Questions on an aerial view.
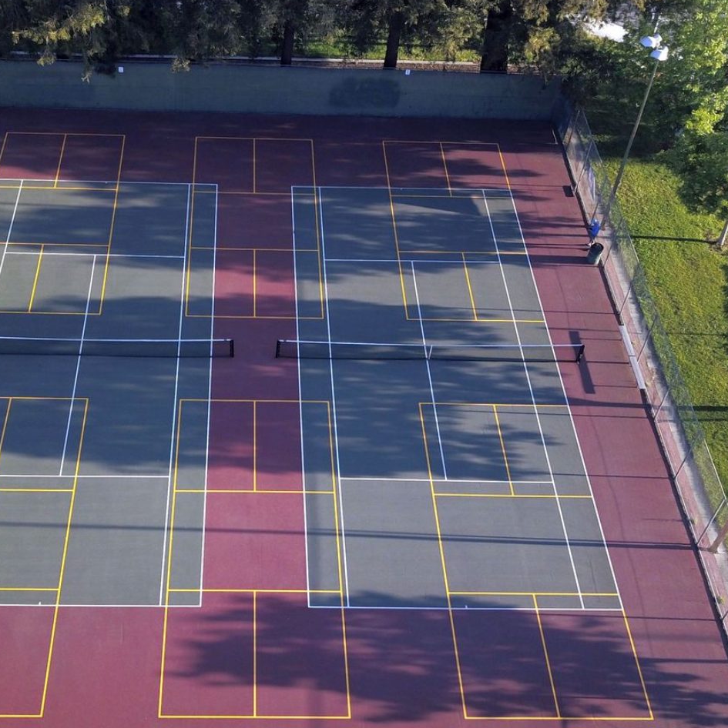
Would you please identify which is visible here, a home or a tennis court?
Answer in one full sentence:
It is a tennis court that can be seen here.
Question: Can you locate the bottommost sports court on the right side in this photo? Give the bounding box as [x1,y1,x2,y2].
[420,404,652,720]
